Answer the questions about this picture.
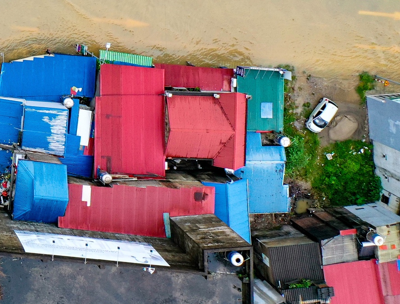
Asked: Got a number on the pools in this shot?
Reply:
zero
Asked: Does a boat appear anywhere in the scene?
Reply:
No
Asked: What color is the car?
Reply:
white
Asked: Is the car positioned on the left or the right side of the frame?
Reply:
right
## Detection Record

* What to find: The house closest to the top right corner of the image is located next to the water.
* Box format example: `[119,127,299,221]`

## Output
[345,87,400,151]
